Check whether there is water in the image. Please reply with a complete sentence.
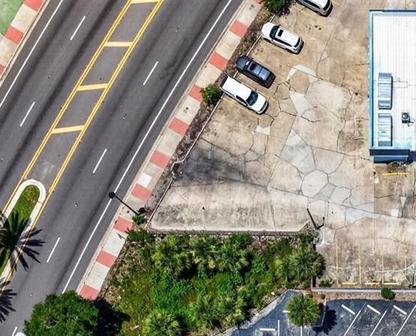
No, there is no water in the image.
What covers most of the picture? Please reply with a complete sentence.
The largest share of the image is taken up by paved ground.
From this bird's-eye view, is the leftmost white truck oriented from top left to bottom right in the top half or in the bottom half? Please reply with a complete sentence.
It is in the top half that the leftmost white truck oriented from top left to bottom right appears.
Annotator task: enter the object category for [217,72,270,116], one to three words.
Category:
truck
